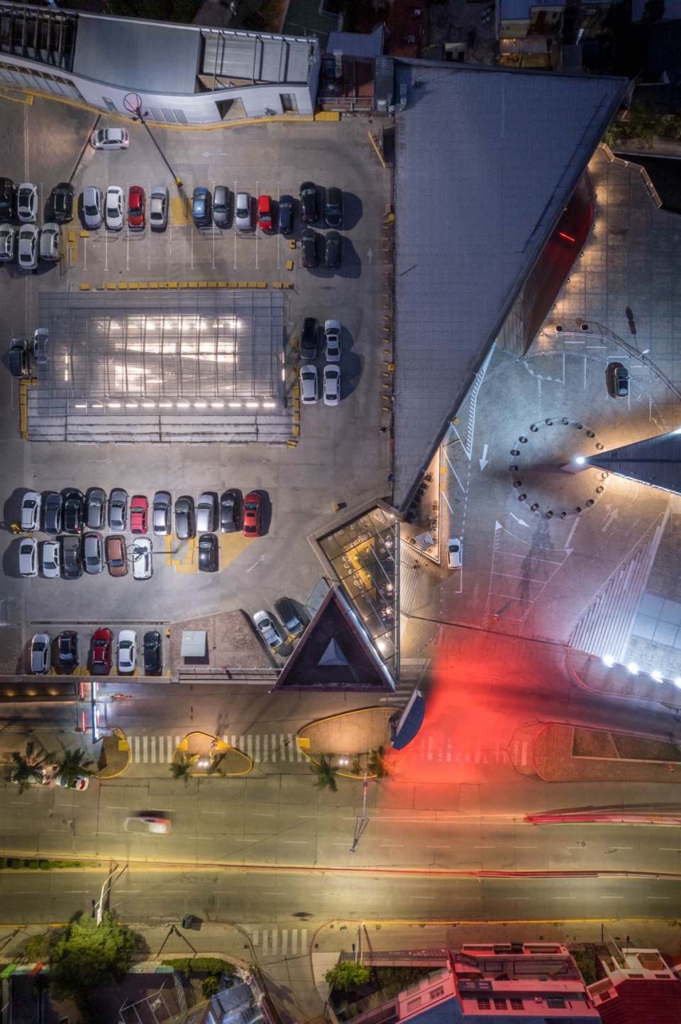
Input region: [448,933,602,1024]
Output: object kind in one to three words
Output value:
building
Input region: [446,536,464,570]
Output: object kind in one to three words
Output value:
car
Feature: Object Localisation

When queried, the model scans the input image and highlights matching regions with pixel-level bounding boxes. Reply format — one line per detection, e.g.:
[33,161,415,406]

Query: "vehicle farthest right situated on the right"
[609,363,629,400]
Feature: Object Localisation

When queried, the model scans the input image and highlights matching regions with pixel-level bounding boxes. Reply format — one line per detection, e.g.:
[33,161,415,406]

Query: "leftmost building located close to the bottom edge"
[198,962,272,1024]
